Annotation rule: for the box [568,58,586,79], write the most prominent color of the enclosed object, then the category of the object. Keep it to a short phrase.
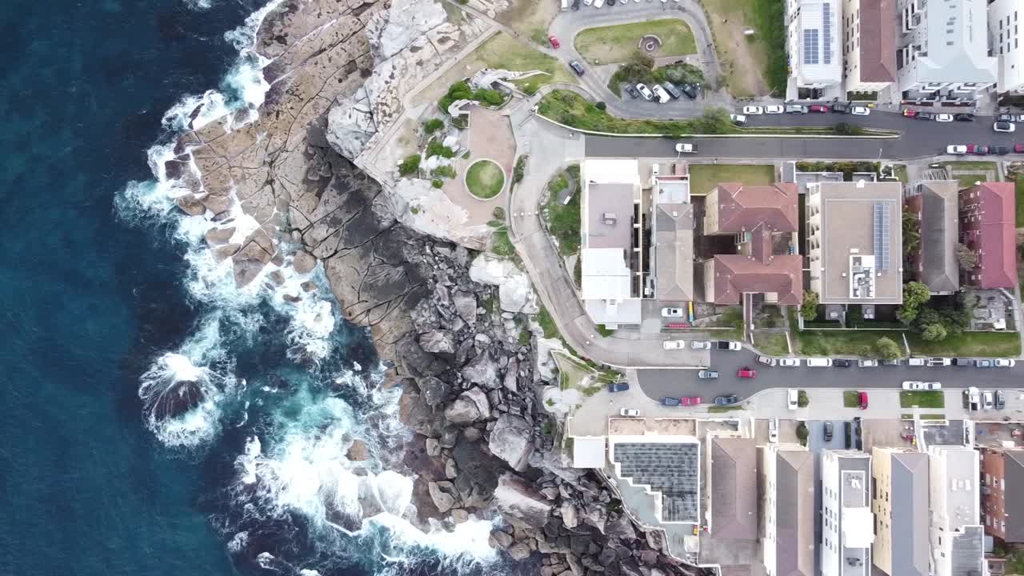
gray car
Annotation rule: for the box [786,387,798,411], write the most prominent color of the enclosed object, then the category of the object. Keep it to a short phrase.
white vehicle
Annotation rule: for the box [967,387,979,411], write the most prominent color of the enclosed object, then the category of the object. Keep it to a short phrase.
white vehicle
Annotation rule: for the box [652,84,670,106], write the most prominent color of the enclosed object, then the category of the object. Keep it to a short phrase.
white car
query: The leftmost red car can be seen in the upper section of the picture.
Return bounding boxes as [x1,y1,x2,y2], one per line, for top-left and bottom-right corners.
[548,33,561,52]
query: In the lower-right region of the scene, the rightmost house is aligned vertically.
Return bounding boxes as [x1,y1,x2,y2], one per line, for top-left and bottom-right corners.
[982,444,1024,543]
